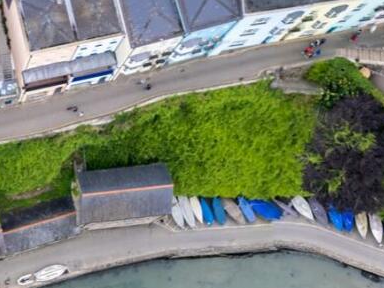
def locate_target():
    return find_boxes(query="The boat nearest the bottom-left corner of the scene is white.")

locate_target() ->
[18,273,35,285]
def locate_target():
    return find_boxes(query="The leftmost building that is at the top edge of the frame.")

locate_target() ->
[8,0,77,99]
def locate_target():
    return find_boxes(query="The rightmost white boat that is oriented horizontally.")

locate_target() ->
[34,262,70,281]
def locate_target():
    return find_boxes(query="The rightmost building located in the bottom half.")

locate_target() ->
[79,162,178,233]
